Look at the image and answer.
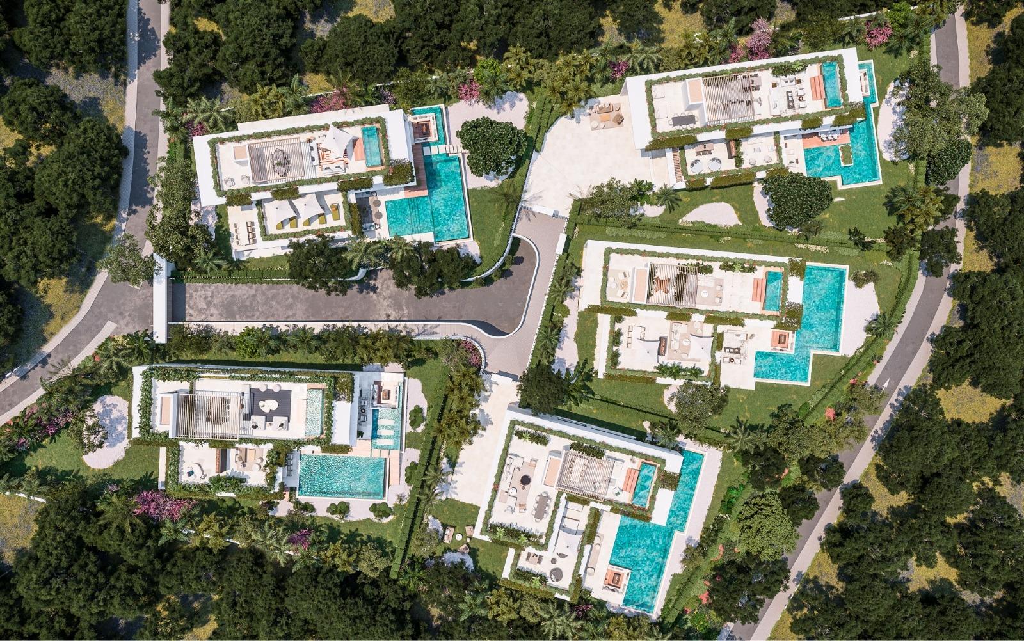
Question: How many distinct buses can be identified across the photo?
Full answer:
The count of buses is 0.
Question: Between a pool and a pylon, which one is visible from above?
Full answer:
This aerial view contains a pool.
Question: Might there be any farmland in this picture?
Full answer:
No, the scene doesn't show any farmland.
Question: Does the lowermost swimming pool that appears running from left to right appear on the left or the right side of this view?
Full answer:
The lowermost swimming pool that appears running from left to right sits on the left side.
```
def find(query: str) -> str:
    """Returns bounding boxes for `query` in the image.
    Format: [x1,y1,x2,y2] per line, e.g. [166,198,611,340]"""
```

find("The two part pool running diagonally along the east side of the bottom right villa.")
[610,446,708,617]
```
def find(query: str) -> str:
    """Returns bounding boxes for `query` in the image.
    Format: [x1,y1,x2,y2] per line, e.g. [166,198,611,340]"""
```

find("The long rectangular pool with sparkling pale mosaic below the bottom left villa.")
[296,454,390,503]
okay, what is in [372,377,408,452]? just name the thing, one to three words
swimming pool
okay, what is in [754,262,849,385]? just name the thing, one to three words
swimming pool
